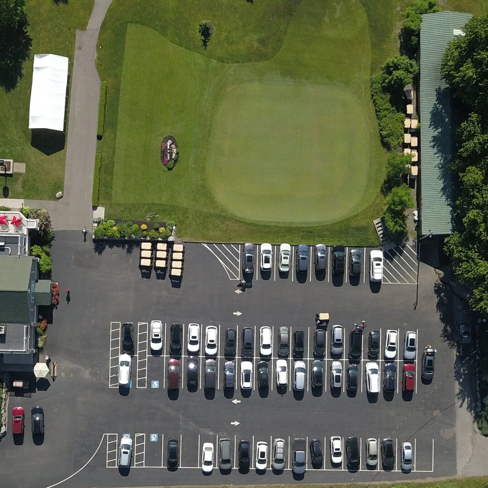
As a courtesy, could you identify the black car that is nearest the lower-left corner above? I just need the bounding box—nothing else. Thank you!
[30,405,45,434]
